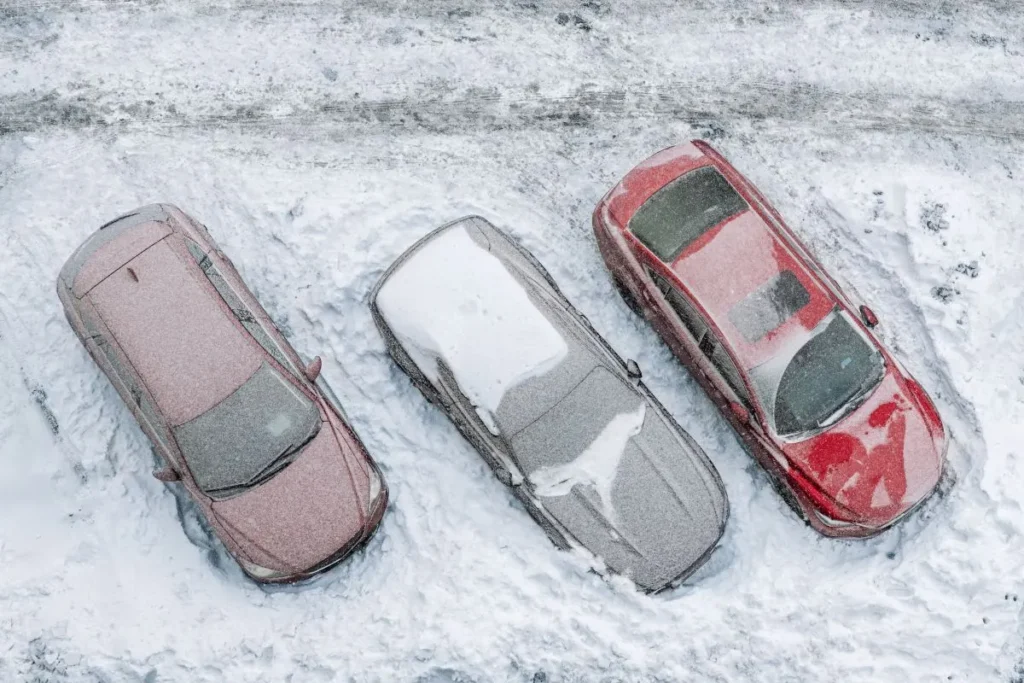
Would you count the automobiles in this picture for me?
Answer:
3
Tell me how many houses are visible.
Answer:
0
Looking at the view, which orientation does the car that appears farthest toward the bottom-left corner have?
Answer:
on a diagonal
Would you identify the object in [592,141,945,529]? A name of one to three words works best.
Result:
car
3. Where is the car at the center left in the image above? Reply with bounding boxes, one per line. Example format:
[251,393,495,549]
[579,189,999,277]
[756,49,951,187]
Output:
[57,207,386,582]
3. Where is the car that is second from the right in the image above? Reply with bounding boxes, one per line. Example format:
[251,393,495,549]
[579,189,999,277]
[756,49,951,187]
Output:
[367,214,729,605]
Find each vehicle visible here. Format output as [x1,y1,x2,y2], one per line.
[592,141,945,529]
[57,207,386,582]
[367,214,729,605]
